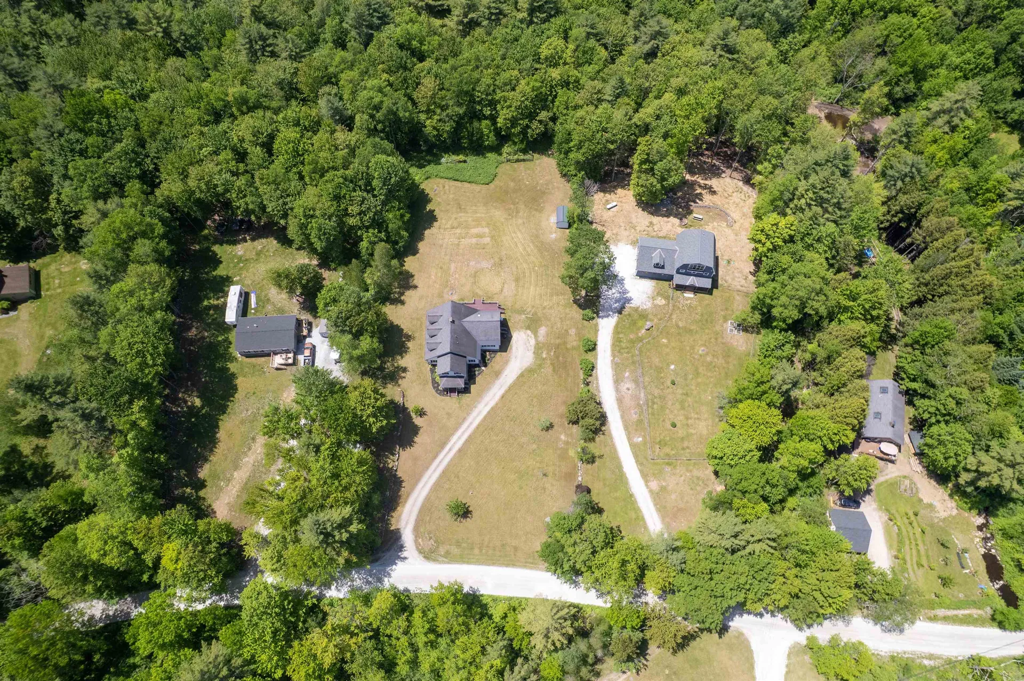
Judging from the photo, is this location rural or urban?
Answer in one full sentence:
It looks rural.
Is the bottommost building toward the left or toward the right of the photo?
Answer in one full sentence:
The bottommost building is on the right side of the image.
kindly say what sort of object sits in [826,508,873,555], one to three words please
building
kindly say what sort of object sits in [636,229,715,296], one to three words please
house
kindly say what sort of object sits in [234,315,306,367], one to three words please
house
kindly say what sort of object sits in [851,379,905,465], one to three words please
building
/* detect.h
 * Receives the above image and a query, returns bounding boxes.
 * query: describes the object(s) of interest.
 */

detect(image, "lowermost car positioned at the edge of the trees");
[836,497,863,509]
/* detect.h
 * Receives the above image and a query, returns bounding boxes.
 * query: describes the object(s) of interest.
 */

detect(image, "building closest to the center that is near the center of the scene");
[424,297,508,396]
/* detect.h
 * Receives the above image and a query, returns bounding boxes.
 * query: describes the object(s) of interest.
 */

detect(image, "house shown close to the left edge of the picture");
[0,262,39,303]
